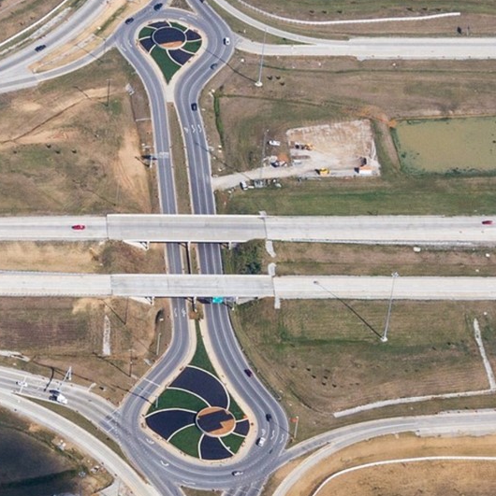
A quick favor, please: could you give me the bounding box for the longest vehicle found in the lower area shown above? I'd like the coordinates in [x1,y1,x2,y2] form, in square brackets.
[47,389,69,403]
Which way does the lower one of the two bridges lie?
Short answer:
horizontally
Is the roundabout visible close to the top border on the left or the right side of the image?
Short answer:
left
